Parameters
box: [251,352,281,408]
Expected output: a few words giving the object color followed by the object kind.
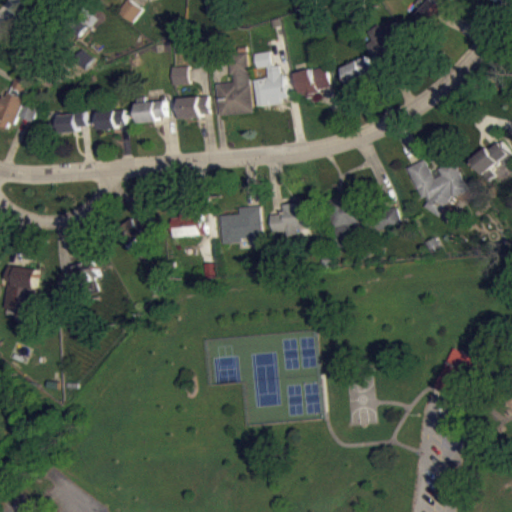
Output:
blue tennis court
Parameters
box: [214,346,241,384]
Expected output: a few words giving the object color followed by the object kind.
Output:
blue tennis court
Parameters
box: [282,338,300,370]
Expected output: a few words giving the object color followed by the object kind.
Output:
blue sports court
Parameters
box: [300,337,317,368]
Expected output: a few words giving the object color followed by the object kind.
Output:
blue sports court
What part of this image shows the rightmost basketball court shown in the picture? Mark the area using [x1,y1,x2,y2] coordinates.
[349,374,378,428]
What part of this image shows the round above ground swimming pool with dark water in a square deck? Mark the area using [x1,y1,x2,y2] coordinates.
[12,342,34,364]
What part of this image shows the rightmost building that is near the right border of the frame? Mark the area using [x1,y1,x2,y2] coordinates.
[466,140,510,178]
